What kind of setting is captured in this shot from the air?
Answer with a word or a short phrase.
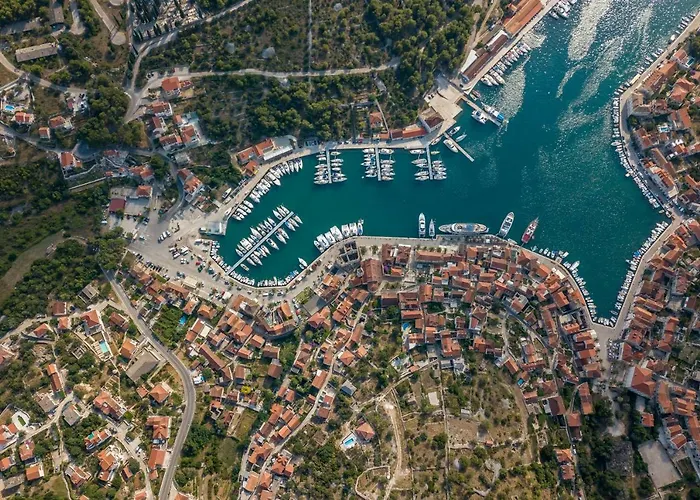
residential area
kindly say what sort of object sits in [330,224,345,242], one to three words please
boat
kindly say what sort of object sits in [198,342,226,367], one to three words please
house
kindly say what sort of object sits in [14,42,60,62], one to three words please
building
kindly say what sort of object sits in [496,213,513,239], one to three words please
ship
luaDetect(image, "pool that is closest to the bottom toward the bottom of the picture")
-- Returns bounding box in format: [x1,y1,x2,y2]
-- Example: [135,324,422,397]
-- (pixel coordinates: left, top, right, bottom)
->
[340,433,358,450]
